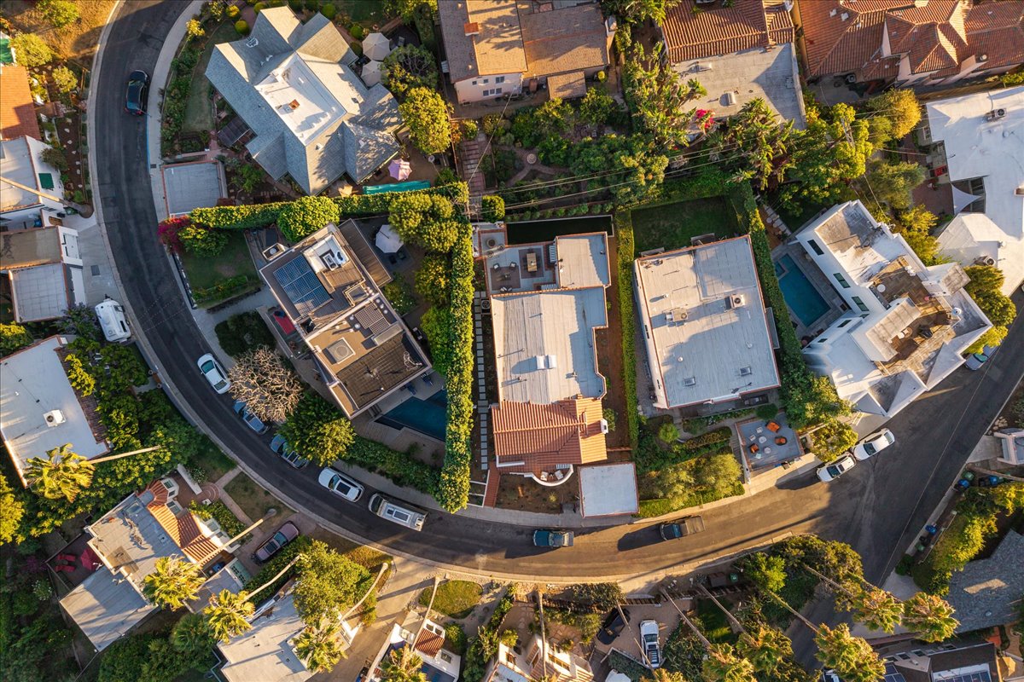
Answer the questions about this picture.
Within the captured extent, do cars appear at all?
Yes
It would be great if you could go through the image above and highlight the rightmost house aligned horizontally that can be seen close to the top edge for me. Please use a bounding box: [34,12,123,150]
[799,0,1024,95]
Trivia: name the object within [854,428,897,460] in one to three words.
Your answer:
car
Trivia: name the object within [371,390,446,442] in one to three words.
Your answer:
swimming pool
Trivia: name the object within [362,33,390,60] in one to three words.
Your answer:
umbrella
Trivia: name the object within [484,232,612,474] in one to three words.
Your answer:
house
